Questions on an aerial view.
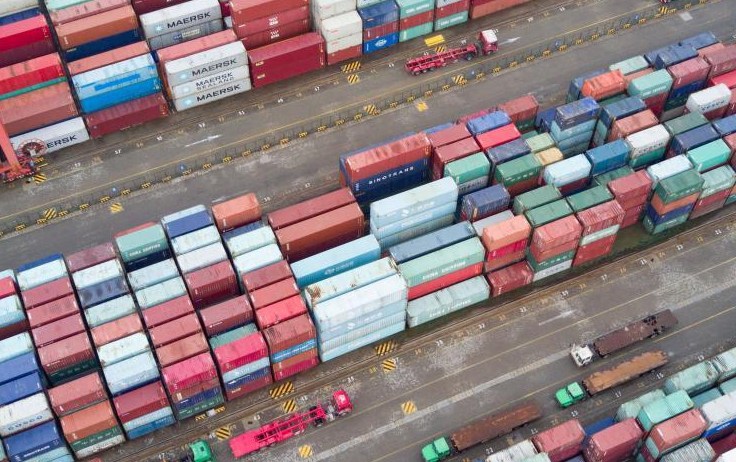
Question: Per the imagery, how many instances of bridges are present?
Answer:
zero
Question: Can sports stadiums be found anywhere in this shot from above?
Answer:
No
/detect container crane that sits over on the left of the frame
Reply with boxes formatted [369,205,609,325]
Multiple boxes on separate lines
[0,106,47,178]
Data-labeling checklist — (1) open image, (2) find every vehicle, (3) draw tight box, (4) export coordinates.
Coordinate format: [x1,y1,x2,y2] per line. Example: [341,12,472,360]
[417,401,542,462]
[180,440,214,462]
[405,31,502,78]
[563,309,680,371]
[229,389,356,458]
[550,348,671,413]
